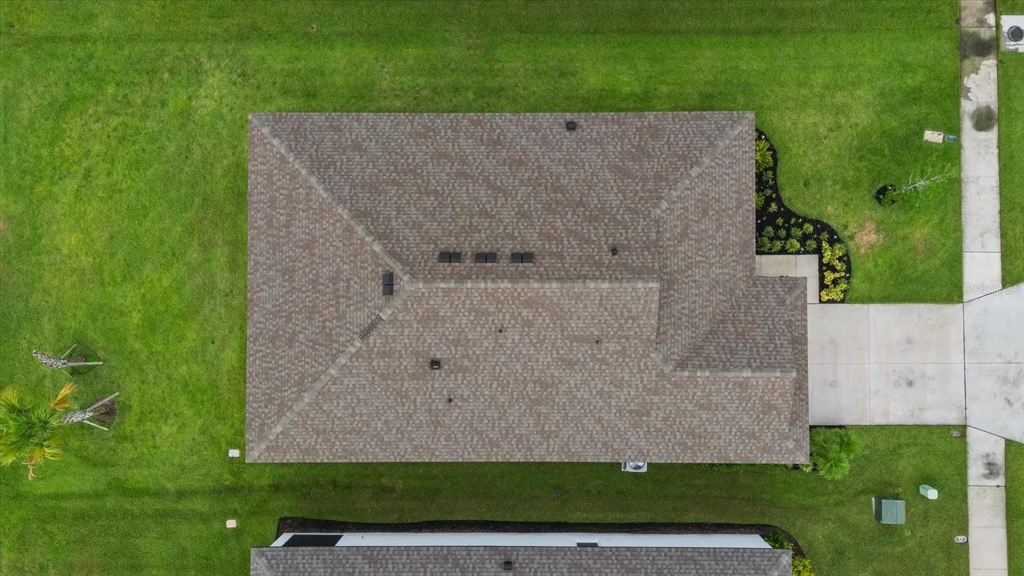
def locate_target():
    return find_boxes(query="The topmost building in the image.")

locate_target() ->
[246,111,809,463]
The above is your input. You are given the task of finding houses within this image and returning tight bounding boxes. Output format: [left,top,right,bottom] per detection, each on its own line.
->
[246,111,809,463]
[251,532,792,576]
